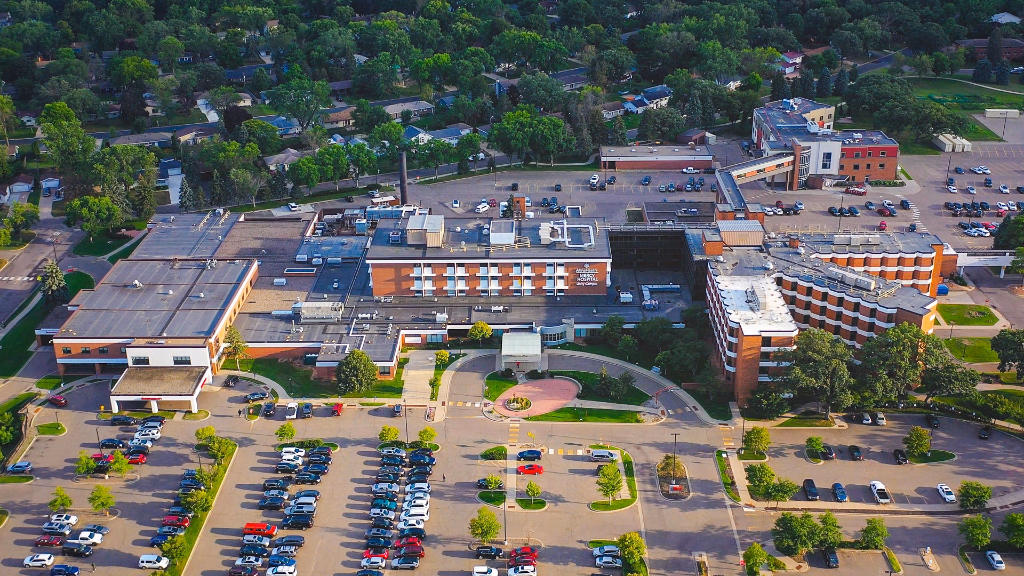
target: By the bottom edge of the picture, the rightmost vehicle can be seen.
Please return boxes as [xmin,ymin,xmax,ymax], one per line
[982,551,1008,572]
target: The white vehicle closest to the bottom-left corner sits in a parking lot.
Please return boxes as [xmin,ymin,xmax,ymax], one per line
[21,553,54,568]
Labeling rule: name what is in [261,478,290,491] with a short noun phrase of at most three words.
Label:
vehicle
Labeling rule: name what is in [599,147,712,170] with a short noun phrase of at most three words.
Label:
shed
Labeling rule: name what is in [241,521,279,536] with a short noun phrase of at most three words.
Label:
vehicle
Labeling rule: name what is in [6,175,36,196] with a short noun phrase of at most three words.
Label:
house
